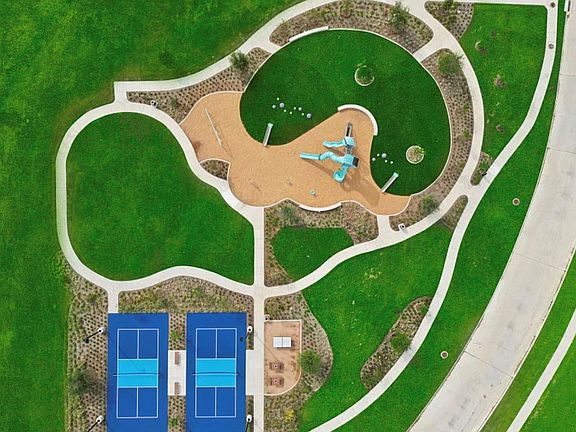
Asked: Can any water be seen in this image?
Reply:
No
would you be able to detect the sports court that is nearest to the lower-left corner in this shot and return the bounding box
[107,313,168,432]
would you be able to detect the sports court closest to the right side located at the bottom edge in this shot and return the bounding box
[186,312,247,432]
